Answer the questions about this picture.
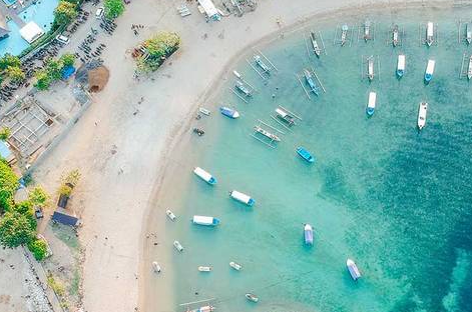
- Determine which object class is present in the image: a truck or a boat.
boat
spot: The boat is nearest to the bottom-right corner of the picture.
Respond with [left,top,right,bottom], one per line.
[349,259,362,281]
